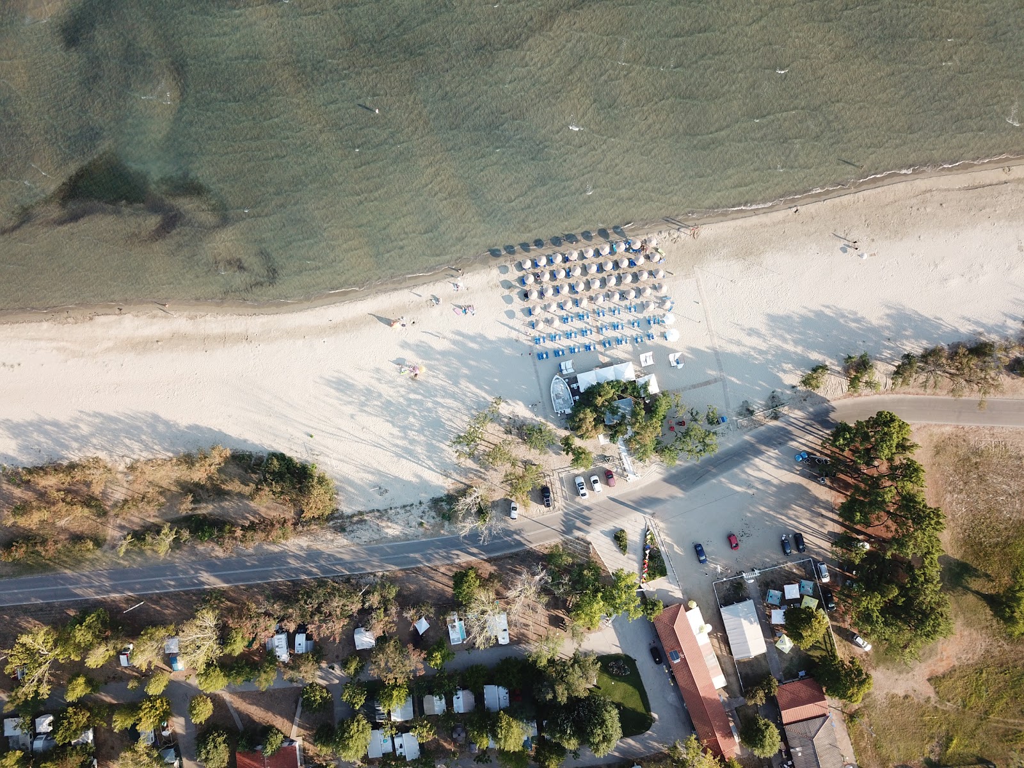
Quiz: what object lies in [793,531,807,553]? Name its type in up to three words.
car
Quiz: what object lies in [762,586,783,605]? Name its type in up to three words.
gazebo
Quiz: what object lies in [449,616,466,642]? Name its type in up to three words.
camper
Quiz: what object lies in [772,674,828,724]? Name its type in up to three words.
house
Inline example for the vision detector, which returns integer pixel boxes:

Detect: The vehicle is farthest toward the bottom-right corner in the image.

[850,632,872,651]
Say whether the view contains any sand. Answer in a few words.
Yes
